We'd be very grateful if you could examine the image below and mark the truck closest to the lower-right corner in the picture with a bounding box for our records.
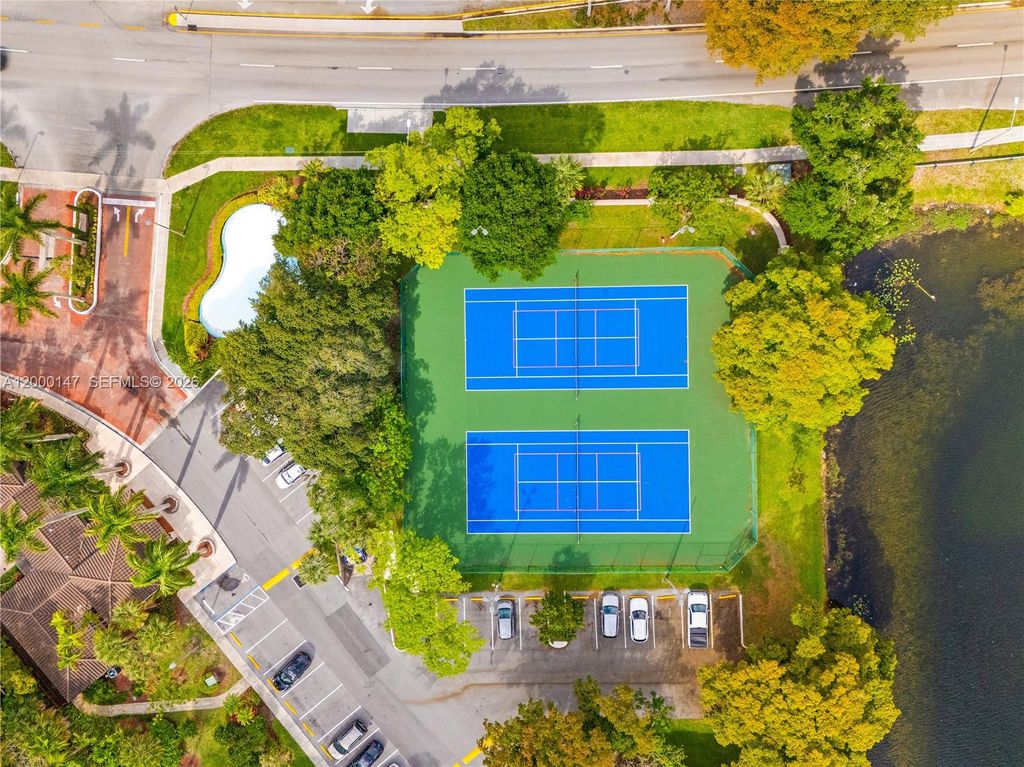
[686,590,710,648]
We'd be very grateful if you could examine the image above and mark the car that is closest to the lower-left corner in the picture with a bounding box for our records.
[272,652,313,689]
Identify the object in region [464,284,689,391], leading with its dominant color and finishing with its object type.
blue tennis court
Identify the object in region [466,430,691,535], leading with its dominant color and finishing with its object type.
blue tennis court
